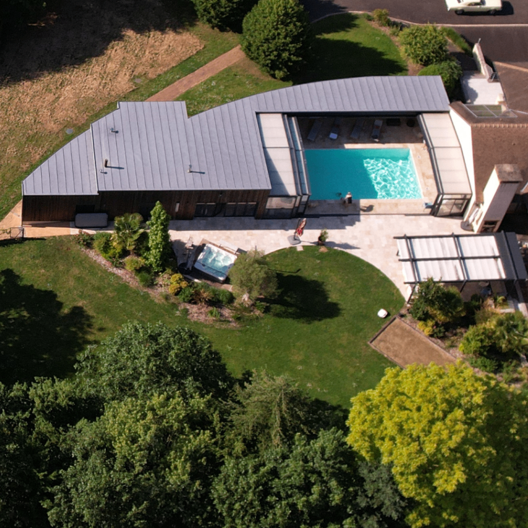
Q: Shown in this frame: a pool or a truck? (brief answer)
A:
pool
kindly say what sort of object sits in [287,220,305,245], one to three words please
umbrella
